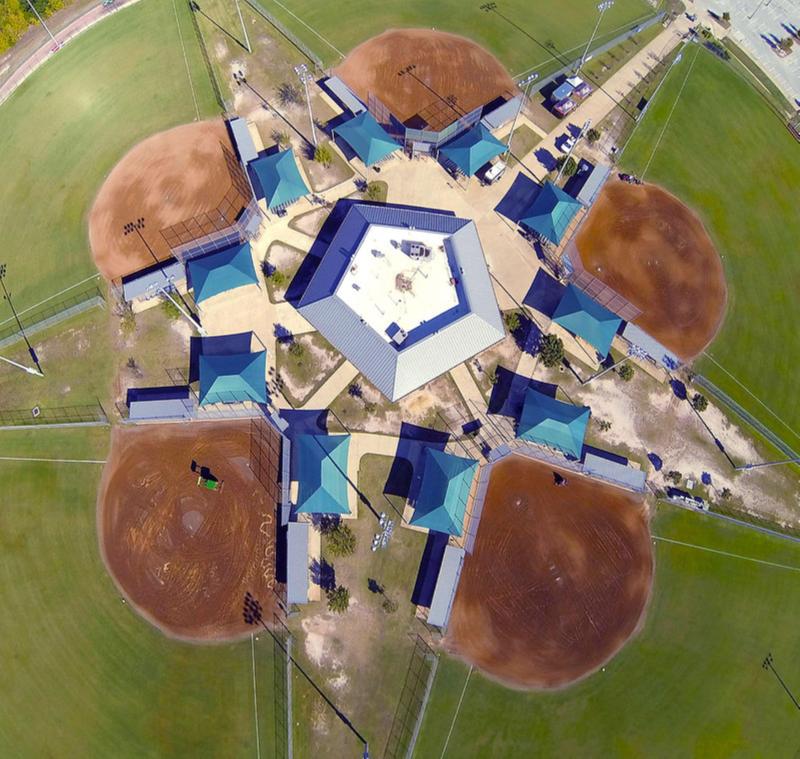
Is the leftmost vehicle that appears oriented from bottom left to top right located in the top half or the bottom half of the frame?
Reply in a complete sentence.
It is in the top half that the leftmost vehicle that appears oriented from bottom left to top right appears.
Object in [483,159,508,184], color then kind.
white vehicle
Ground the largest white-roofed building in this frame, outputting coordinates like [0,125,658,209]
[298,205,505,402]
